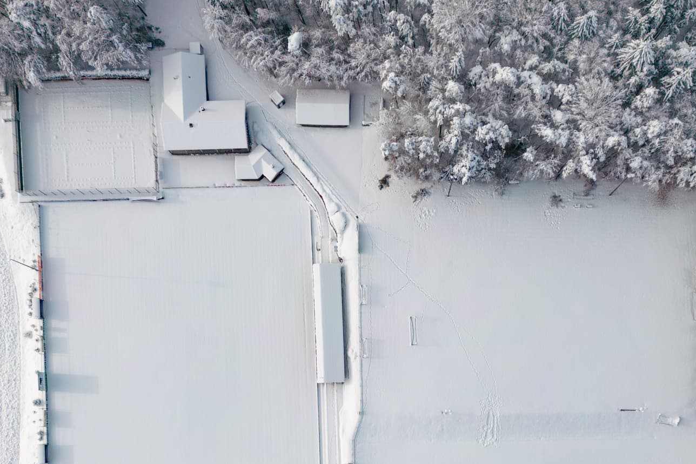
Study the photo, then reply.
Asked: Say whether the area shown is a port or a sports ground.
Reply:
sports ground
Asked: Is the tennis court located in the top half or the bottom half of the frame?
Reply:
top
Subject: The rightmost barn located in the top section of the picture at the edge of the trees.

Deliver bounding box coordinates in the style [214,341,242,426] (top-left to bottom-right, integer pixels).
[296,90,350,128]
